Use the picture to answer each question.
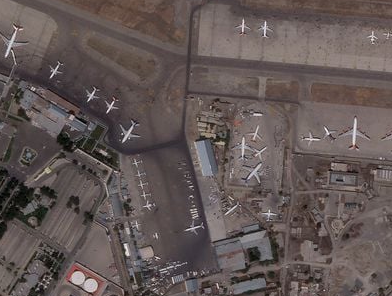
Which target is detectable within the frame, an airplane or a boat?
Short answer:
airplane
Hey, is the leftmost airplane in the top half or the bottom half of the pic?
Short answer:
top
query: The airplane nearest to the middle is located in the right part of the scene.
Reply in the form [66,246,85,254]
[231,137,255,161]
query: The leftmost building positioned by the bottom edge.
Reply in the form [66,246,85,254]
[13,259,46,296]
